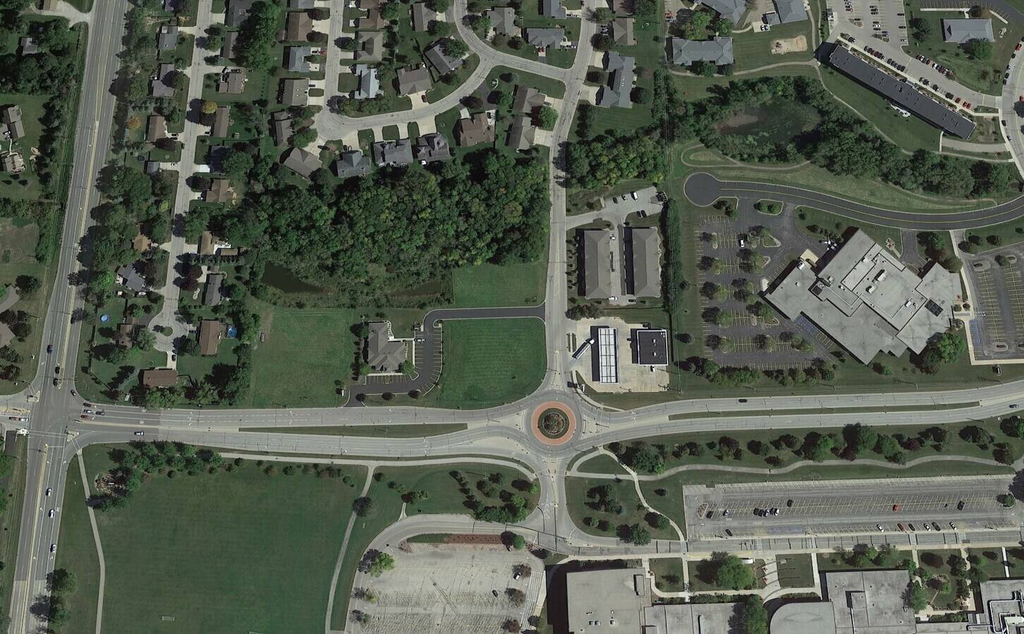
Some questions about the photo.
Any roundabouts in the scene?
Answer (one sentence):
Yes, this view includes a roundabout.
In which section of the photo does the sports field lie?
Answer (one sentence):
The sports field sits in the bottom left section of the image.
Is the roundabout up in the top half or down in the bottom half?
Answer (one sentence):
The bottom half of the photo is where the roundabout is.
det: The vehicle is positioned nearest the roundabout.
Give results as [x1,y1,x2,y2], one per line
[573,339,595,357]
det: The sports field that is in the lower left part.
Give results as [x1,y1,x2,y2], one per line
[89,464,361,634]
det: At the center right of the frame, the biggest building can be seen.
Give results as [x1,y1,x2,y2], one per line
[764,228,962,365]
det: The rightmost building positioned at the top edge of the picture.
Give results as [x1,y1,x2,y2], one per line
[942,17,994,43]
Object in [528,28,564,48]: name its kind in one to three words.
house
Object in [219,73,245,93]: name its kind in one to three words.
house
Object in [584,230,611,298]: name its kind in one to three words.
building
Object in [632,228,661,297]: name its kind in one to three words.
building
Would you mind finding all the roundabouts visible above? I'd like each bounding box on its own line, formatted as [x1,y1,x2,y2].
[521,390,587,457]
